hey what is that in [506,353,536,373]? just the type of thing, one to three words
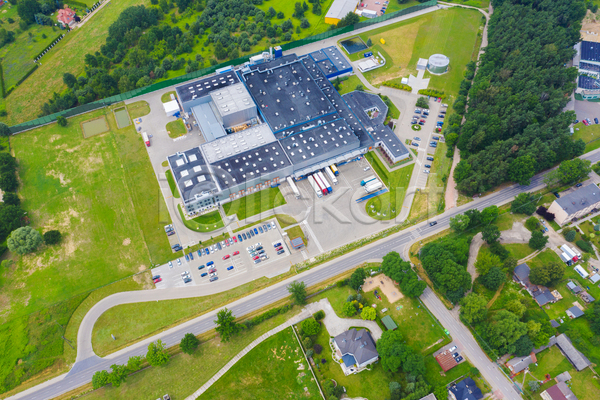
house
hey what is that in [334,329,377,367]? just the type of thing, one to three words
house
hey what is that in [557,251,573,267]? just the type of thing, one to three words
vehicle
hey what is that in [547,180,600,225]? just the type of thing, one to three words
building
